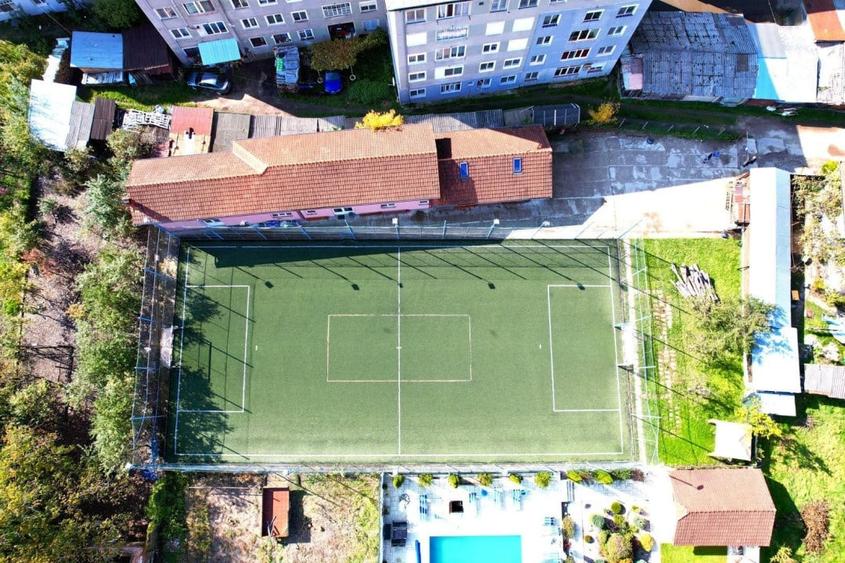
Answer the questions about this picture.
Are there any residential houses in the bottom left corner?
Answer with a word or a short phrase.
No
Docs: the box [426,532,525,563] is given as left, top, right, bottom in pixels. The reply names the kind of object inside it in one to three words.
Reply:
swimming pool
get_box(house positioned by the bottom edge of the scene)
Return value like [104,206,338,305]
[662,467,777,546]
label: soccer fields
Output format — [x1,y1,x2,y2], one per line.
[164,239,635,464]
